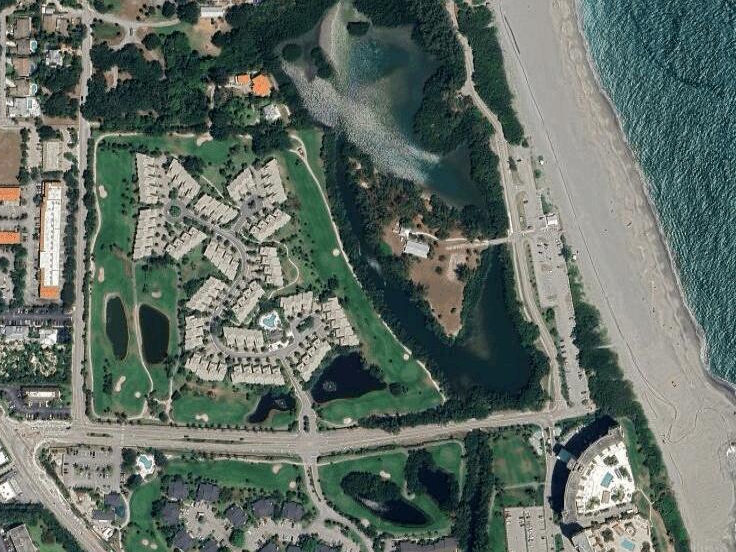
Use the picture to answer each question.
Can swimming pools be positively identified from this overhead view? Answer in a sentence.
Yes, a swimming pool is visible in the scene.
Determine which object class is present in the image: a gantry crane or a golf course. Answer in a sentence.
Looking from above, you can make out a golf course.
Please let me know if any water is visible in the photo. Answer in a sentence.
Yes, there is water in the image.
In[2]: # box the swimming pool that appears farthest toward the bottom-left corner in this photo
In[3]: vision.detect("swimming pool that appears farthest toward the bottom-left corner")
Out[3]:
[138,454,155,478]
